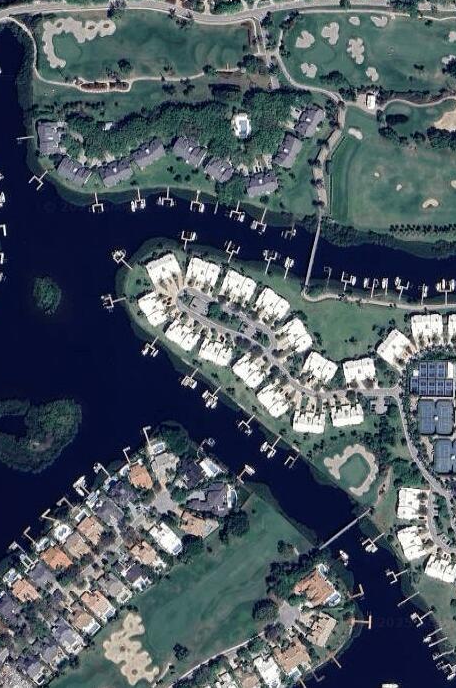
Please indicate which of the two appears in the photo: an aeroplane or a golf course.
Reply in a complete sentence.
There is a golf course in the scene.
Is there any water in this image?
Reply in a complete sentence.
Yes, water shows up in the scene.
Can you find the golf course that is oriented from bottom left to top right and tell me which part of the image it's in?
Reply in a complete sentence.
Look in the bottom portion of the view to spot the golf course that is oriented from bottom left to top right.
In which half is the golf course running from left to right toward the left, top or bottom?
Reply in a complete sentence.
The golf course running from left to right toward the left sits in the top half of the picture.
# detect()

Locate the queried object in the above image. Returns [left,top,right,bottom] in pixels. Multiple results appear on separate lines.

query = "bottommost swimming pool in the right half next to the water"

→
[282,666,300,681]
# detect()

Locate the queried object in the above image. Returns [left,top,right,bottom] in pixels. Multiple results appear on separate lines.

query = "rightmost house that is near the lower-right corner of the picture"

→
[425,547,456,582]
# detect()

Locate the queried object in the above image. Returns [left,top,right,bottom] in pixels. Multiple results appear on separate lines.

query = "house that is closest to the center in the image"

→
[199,332,236,364]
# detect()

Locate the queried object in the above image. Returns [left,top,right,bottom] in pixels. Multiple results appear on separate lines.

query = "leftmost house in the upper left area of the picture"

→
[40,126,58,154]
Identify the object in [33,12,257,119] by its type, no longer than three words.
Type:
golf course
